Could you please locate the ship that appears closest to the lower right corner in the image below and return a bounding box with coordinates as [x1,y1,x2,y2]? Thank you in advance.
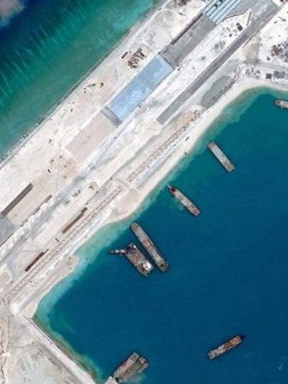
[205,335,245,358]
